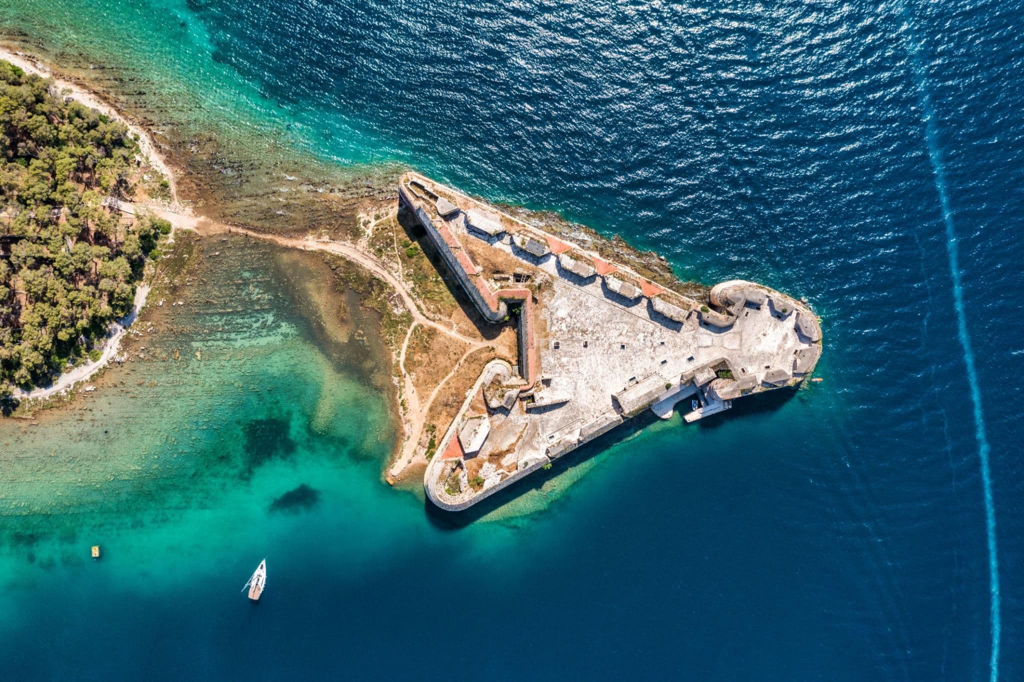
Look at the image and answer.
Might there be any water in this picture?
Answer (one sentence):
Yes, there's water in this view.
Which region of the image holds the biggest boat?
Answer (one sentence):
Look in the bottom left portion of the view to spot the biggest boat.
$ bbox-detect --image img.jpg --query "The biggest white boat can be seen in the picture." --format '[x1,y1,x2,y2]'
[244,558,267,601]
